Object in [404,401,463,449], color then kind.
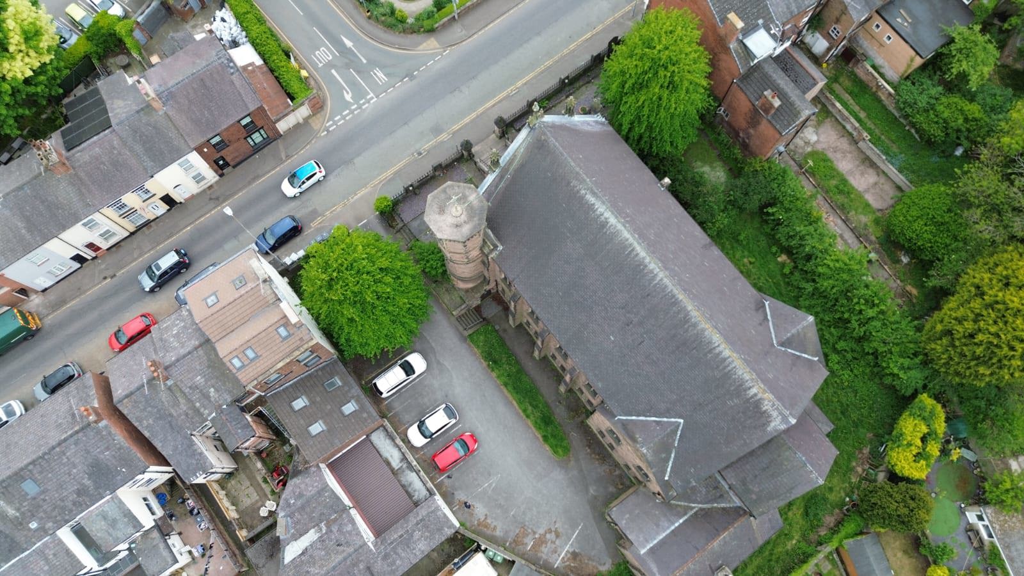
white car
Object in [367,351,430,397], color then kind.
white car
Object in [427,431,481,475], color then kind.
red car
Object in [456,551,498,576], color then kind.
white trailer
